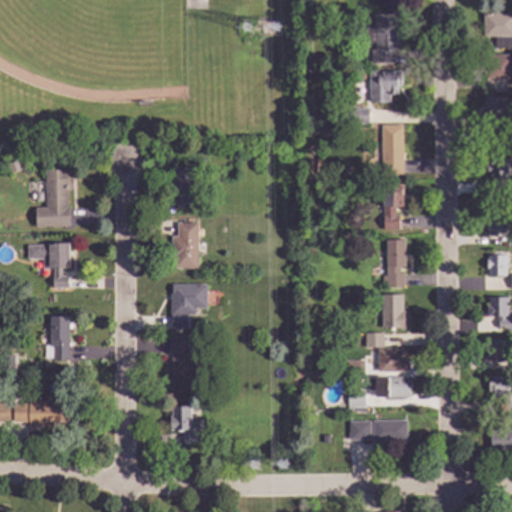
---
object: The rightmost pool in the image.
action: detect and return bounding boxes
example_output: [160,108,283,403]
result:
[323,384,344,407]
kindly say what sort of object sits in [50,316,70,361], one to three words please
house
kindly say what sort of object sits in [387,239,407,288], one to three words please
house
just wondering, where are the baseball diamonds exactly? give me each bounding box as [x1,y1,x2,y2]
[0,0,188,101]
